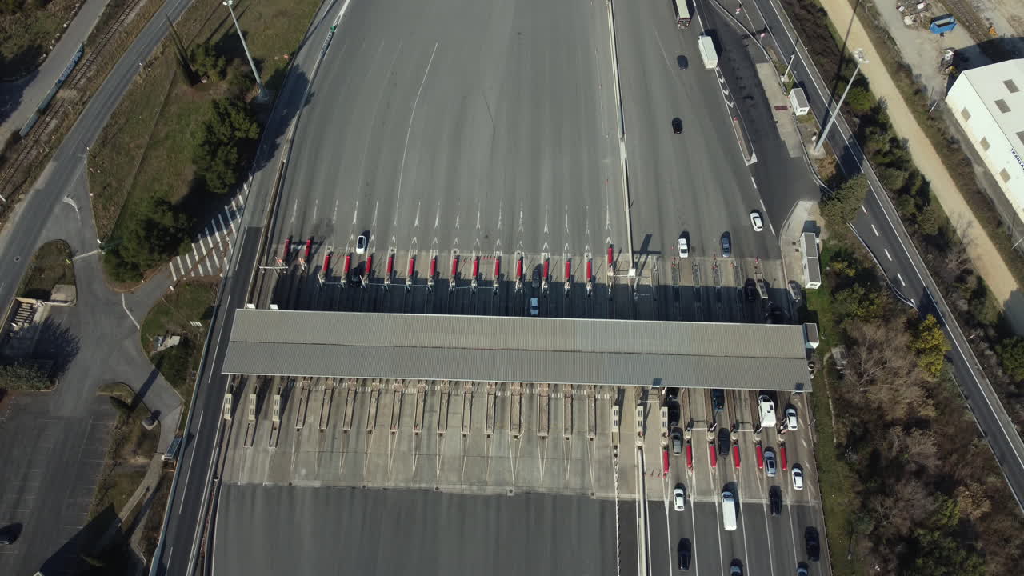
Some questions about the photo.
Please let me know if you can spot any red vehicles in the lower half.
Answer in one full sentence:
No, I see no red vehicle in the lower half.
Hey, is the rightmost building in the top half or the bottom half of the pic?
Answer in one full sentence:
Seen from above, the rightmost building lies in the top half of the view.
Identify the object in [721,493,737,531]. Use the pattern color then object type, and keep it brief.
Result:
white vehicle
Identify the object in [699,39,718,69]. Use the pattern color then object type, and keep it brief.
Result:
white vehicle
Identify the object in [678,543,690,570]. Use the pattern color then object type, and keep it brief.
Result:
black vehicle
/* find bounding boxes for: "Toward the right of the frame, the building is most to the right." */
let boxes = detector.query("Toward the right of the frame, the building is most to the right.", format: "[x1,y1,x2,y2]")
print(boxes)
[945,53,1024,221]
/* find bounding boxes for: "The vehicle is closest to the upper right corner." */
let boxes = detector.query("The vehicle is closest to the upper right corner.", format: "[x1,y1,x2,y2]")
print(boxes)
[983,19,1001,37]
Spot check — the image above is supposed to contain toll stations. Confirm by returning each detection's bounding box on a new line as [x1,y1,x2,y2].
[203,242,821,506]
